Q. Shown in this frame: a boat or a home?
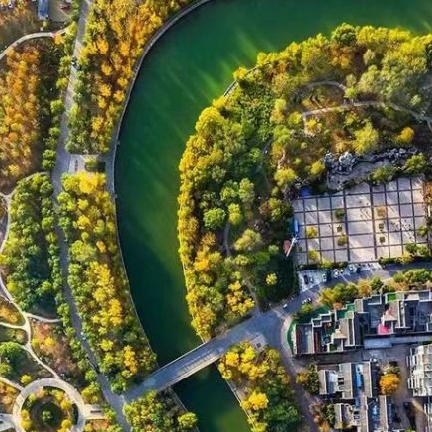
home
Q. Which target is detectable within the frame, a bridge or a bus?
bridge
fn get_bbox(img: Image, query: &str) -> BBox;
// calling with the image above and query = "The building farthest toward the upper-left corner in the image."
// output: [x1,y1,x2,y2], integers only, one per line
[37,0,50,24]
